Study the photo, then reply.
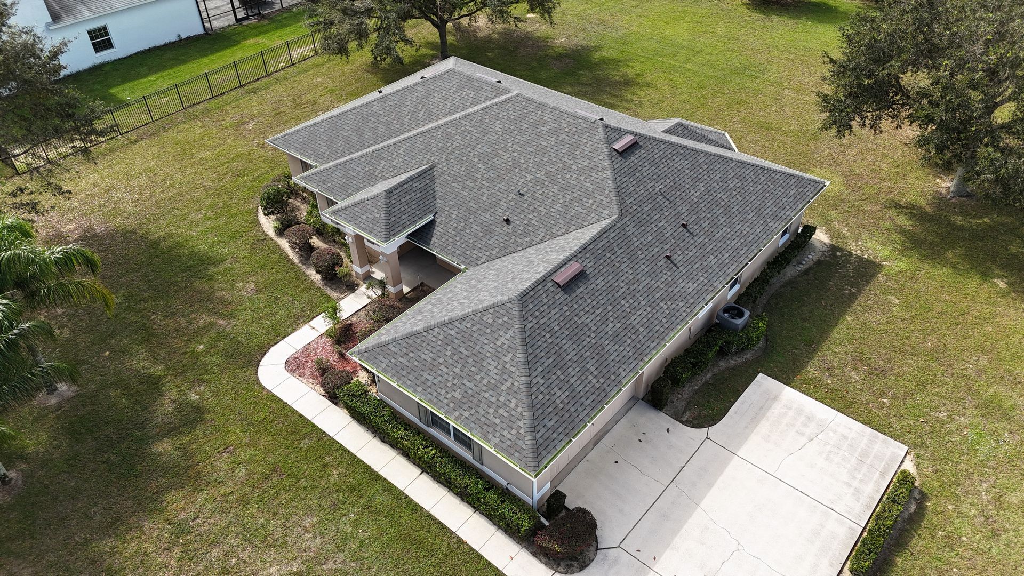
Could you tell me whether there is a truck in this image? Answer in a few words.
No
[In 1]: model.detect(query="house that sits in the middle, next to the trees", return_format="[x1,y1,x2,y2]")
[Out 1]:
[267,55,831,520]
